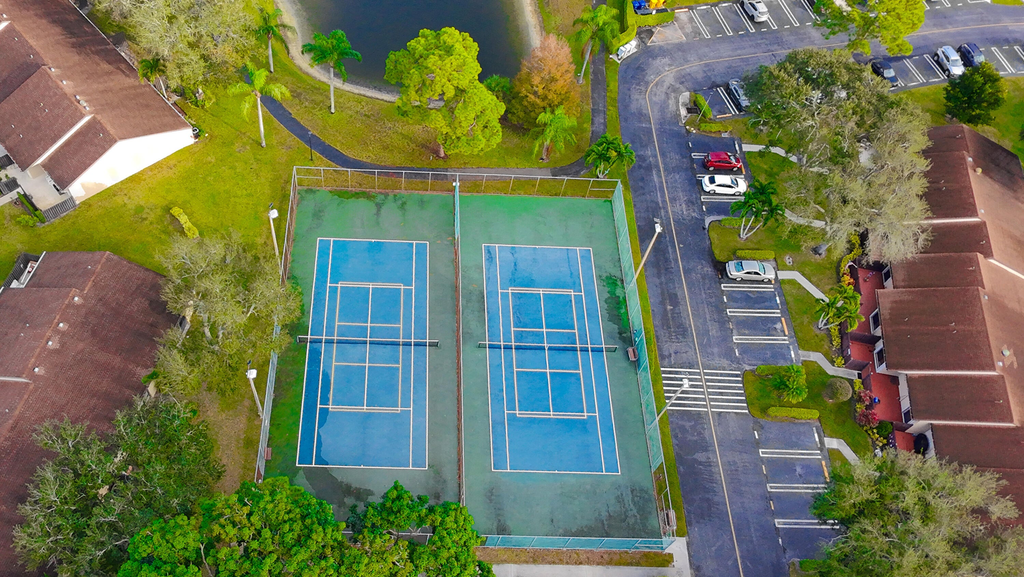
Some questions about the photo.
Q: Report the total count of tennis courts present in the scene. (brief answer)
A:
two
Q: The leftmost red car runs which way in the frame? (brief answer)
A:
horizontally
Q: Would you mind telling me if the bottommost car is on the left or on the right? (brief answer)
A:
right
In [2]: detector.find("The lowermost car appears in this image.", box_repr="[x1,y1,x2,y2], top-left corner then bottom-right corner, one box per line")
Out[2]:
[728,259,777,281]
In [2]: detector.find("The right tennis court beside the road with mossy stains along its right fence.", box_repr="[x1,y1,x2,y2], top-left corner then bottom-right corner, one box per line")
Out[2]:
[460,198,660,541]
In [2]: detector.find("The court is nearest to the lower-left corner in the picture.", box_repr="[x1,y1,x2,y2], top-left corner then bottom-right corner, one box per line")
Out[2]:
[265,190,460,543]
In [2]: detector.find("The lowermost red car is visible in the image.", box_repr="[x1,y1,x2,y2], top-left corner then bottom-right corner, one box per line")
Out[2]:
[704,151,743,171]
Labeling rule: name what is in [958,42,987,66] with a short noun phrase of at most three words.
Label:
car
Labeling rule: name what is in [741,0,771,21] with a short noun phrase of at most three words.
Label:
car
